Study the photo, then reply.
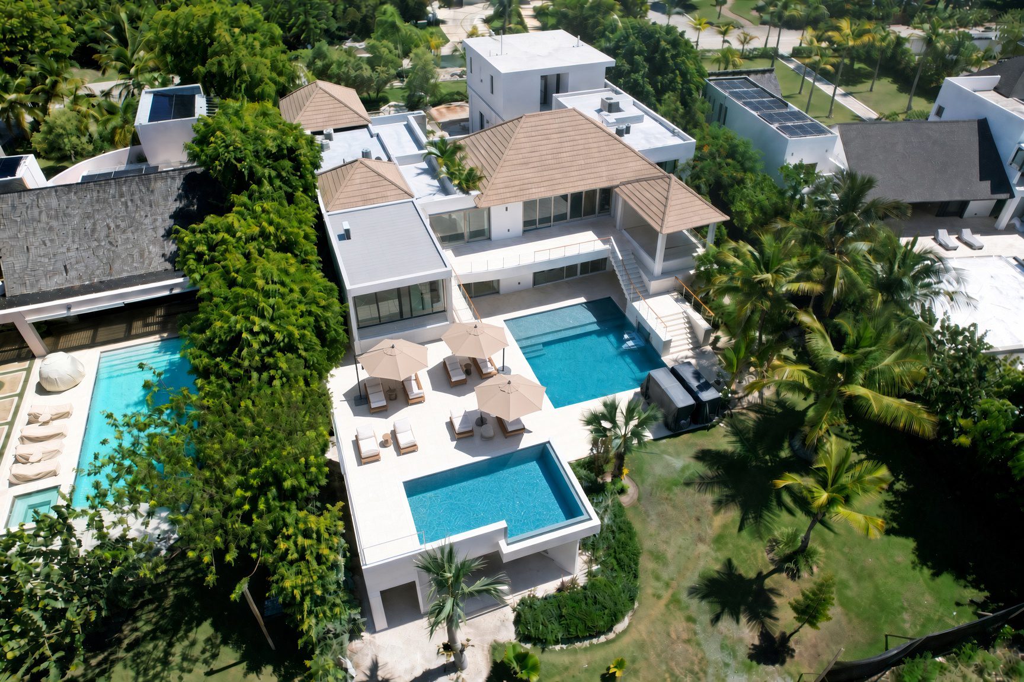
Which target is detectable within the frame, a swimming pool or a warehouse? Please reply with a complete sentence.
The image shows a swimming pool.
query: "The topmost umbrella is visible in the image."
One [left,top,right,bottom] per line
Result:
[441,317,511,372]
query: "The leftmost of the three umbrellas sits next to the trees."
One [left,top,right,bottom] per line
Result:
[351,336,431,410]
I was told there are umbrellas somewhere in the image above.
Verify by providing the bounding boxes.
[441,317,511,372]
[469,368,550,428]
[351,336,431,410]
